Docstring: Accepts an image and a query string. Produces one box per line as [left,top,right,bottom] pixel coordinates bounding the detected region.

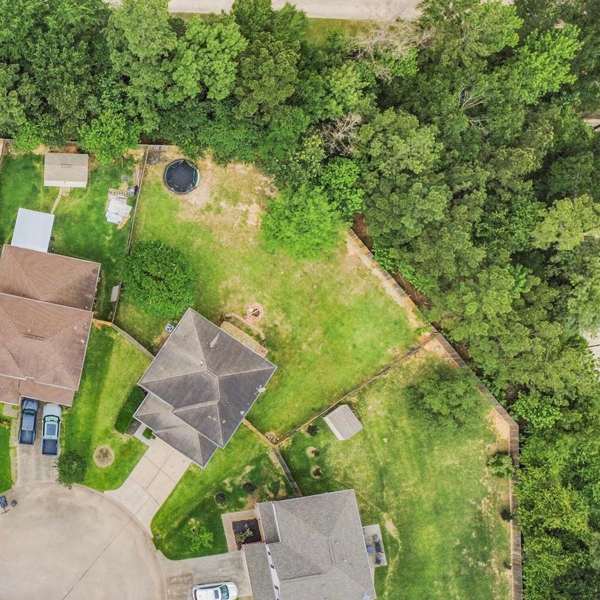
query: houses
[0,244,101,408]
[242,489,377,600]
[133,307,277,468]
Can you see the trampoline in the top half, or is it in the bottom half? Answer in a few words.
top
